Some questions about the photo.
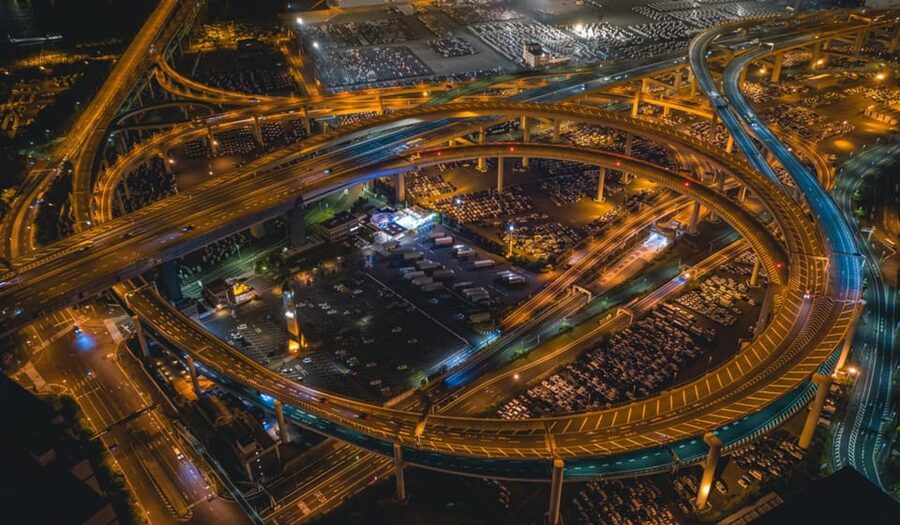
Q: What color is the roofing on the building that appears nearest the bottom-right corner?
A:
black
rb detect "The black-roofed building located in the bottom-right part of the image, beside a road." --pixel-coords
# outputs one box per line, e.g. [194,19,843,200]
[765,467,900,525]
